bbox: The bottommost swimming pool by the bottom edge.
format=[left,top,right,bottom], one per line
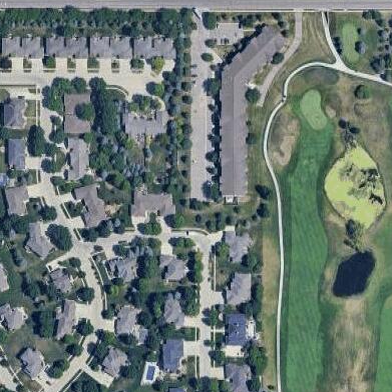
[142,362,158,384]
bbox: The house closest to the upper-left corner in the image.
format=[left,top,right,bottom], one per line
[2,34,43,58]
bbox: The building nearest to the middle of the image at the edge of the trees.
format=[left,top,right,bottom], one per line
[134,190,172,216]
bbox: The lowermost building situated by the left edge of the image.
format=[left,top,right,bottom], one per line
[18,345,44,383]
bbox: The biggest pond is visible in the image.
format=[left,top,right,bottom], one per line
[325,146,385,229]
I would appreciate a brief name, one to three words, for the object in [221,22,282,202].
building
